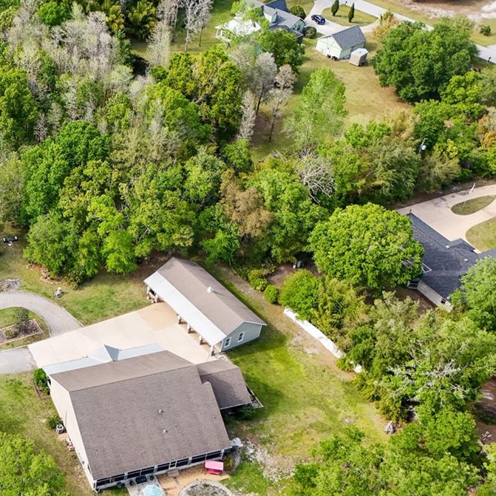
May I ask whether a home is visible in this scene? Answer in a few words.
Yes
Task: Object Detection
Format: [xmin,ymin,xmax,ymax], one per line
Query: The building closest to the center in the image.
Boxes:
[145,258,266,355]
